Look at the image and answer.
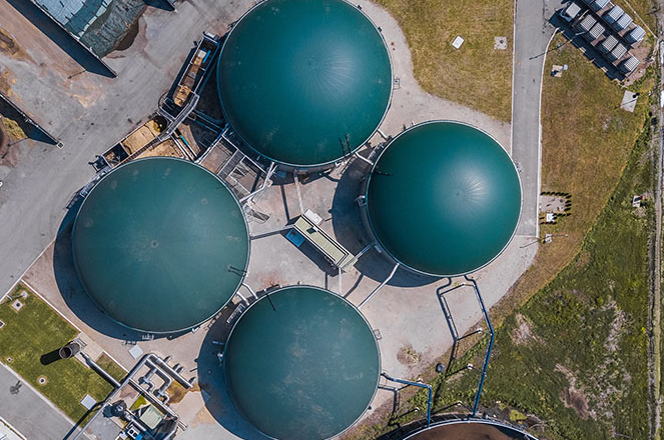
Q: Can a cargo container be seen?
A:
Yes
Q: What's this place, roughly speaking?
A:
industrial area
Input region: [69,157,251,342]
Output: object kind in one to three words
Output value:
storage tank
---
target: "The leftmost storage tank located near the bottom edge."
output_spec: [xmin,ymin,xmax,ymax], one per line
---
[218,283,386,440]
